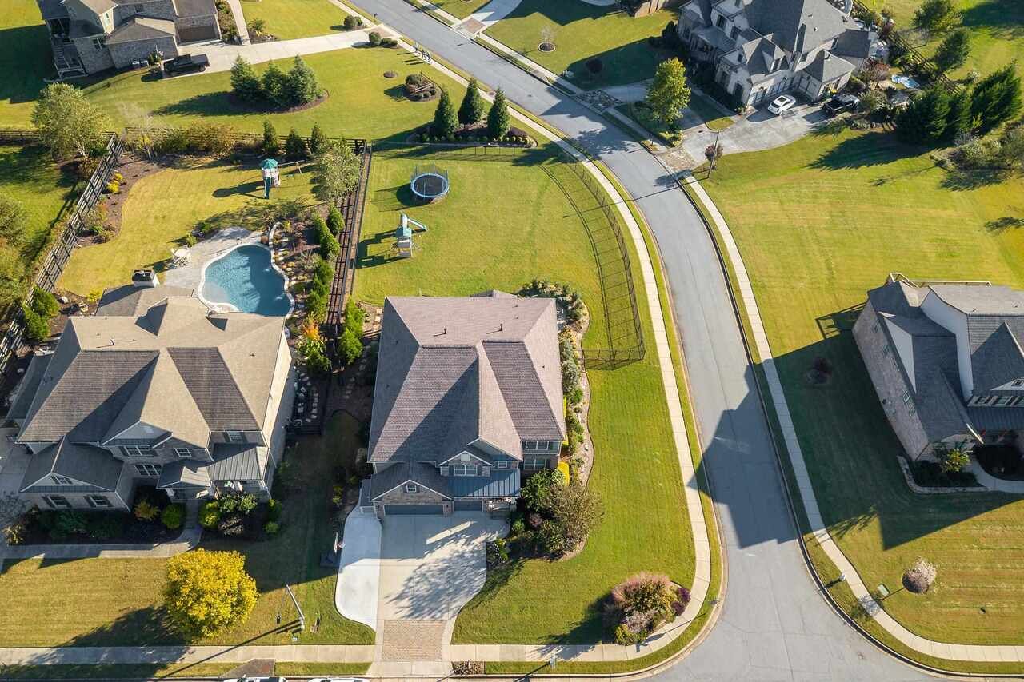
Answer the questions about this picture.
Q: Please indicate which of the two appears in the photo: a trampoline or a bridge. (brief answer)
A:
trampoline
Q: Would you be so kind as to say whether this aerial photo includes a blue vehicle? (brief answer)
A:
No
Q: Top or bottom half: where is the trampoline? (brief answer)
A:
top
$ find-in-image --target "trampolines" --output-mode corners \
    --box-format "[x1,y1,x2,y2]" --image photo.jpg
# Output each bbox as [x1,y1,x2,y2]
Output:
[409,161,449,203]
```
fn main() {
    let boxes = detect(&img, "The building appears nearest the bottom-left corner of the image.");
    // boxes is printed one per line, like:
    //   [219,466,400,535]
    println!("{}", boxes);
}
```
[0,273,296,523]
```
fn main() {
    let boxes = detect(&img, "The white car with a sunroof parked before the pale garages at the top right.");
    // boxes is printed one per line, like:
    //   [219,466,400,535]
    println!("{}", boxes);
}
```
[766,94,798,116]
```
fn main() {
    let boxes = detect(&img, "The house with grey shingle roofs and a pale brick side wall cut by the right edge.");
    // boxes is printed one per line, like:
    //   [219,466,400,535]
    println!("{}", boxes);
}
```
[856,274,1024,473]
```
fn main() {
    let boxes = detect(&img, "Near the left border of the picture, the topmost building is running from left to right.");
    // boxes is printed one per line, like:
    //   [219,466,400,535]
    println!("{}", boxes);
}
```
[28,0,224,80]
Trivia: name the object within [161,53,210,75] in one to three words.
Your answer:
truck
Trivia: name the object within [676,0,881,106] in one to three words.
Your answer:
house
